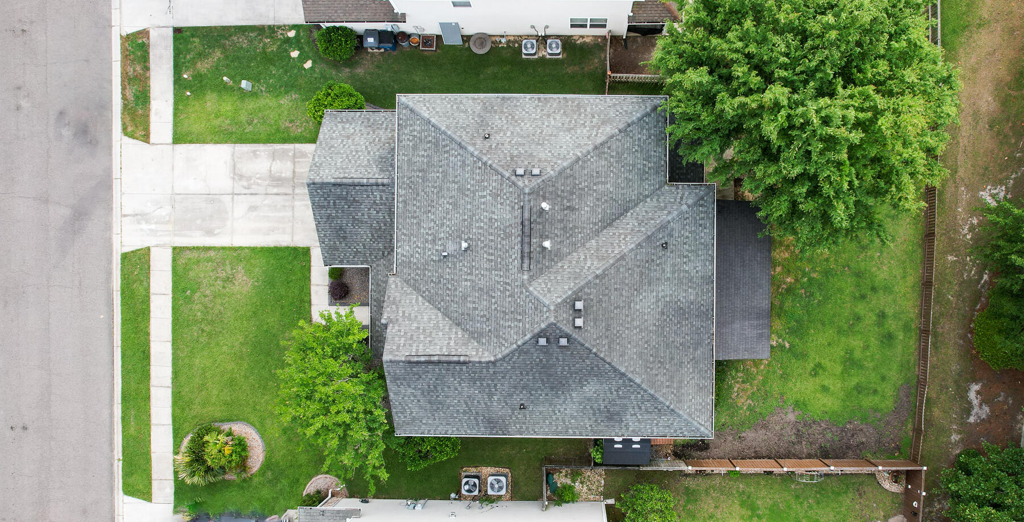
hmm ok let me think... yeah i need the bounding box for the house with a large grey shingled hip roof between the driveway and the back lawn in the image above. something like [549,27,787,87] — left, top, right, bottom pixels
[307,94,771,438]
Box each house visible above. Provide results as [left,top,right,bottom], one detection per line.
[303,0,678,57]
[298,481,609,522]
[307,94,771,438]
